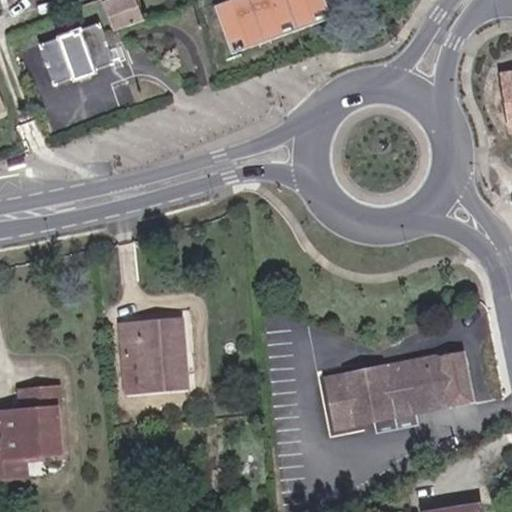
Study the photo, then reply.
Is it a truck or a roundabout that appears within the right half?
roundabout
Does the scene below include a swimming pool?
No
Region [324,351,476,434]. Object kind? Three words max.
building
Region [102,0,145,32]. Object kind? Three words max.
house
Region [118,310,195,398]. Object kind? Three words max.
house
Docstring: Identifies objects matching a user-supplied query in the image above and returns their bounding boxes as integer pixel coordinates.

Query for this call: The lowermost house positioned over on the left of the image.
[0,405,65,486]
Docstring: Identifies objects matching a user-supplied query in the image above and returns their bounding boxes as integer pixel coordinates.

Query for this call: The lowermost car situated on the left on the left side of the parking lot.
[116,306,136,318]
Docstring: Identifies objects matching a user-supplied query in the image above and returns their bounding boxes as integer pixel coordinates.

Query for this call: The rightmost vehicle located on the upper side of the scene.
[341,94,364,108]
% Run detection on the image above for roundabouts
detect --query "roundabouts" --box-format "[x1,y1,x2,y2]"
[300,74,464,238]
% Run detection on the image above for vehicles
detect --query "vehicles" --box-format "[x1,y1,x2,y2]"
[242,165,264,176]
[341,94,364,108]
[116,306,136,318]
[8,0,31,18]
[438,438,454,448]
[416,487,434,497]
[462,304,473,325]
